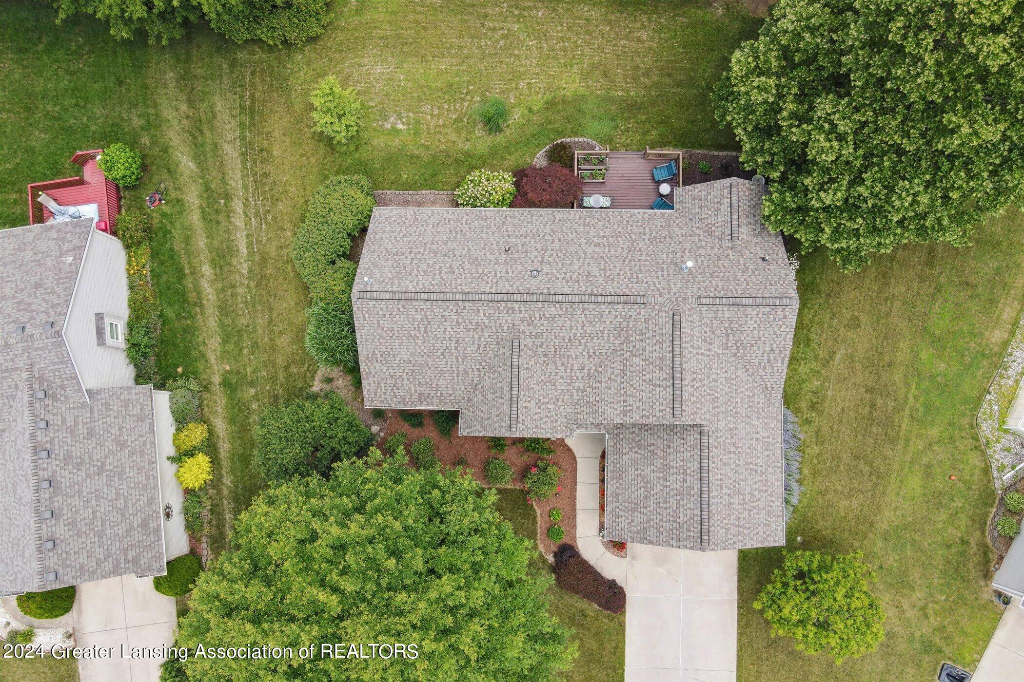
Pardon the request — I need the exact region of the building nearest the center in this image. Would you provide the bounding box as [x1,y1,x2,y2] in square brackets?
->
[352,177,798,551]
